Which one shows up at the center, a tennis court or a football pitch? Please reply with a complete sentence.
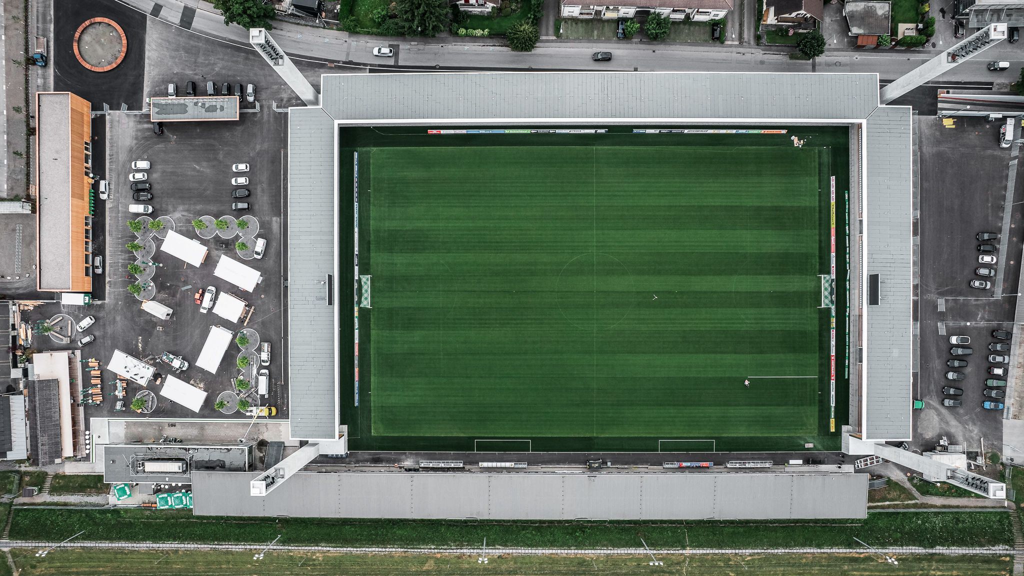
It is a football pitch that can be seen at the center.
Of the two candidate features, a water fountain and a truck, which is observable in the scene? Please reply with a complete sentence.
The image shows a truck.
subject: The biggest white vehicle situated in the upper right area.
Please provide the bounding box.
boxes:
[1000,118,1017,148]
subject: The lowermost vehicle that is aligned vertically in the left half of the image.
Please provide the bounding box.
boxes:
[257,371,269,399]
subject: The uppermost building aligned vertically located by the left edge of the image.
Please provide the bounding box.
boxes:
[35,92,92,292]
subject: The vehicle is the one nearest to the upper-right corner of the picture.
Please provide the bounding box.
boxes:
[1007,27,1020,45]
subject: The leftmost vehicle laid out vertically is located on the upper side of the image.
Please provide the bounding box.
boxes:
[33,35,48,67]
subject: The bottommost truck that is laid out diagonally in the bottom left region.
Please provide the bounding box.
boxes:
[238,402,276,443]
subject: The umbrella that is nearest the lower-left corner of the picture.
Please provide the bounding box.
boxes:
[114,483,132,501]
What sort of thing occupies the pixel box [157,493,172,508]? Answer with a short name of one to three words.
umbrella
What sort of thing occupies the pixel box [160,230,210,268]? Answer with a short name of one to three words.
shed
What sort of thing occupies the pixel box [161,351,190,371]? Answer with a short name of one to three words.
vehicle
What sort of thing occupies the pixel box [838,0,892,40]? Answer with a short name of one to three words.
building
